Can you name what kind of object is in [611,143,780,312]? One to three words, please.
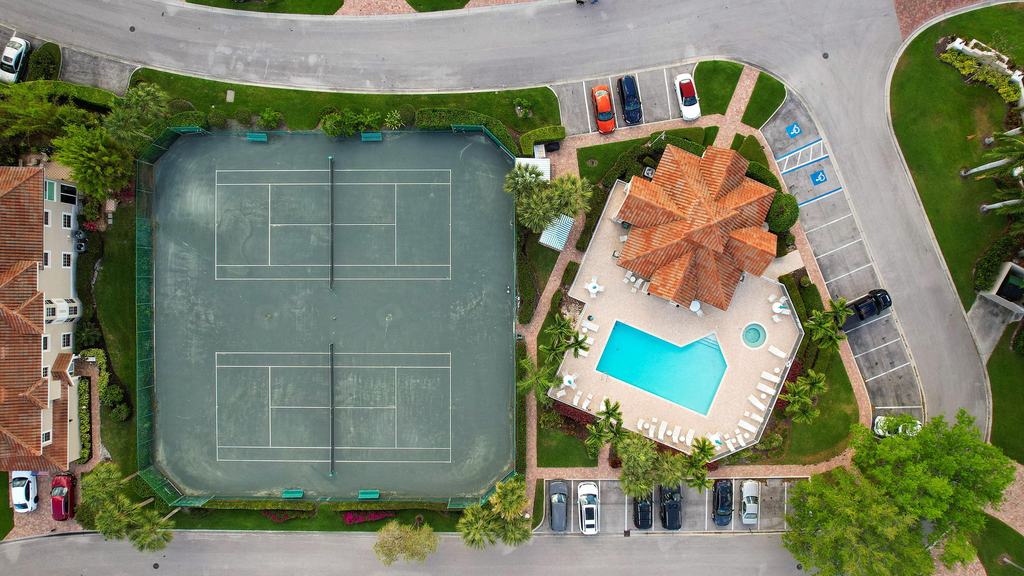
building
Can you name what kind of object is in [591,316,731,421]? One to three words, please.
swimming pool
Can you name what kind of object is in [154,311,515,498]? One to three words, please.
tennis court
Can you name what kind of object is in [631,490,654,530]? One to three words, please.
car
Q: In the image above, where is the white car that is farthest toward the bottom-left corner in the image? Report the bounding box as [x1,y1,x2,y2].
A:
[10,472,37,515]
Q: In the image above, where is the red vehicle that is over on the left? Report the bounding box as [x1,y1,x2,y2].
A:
[46,472,75,522]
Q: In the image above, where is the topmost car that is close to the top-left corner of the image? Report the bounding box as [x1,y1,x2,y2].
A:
[0,32,30,79]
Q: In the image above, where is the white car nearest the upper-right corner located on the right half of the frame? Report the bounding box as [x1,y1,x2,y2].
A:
[674,72,702,122]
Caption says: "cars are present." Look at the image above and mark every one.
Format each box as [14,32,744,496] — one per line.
[738,477,761,524]
[711,477,735,525]
[10,472,37,515]
[576,479,600,532]
[657,480,682,531]
[0,32,30,79]
[872,418,922,441]
[547,479,570,530]
[591,85,617,134]
[631,490,654,530]
[674,72,702,122]
[616,74,644,126]
[46,472,75,522]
